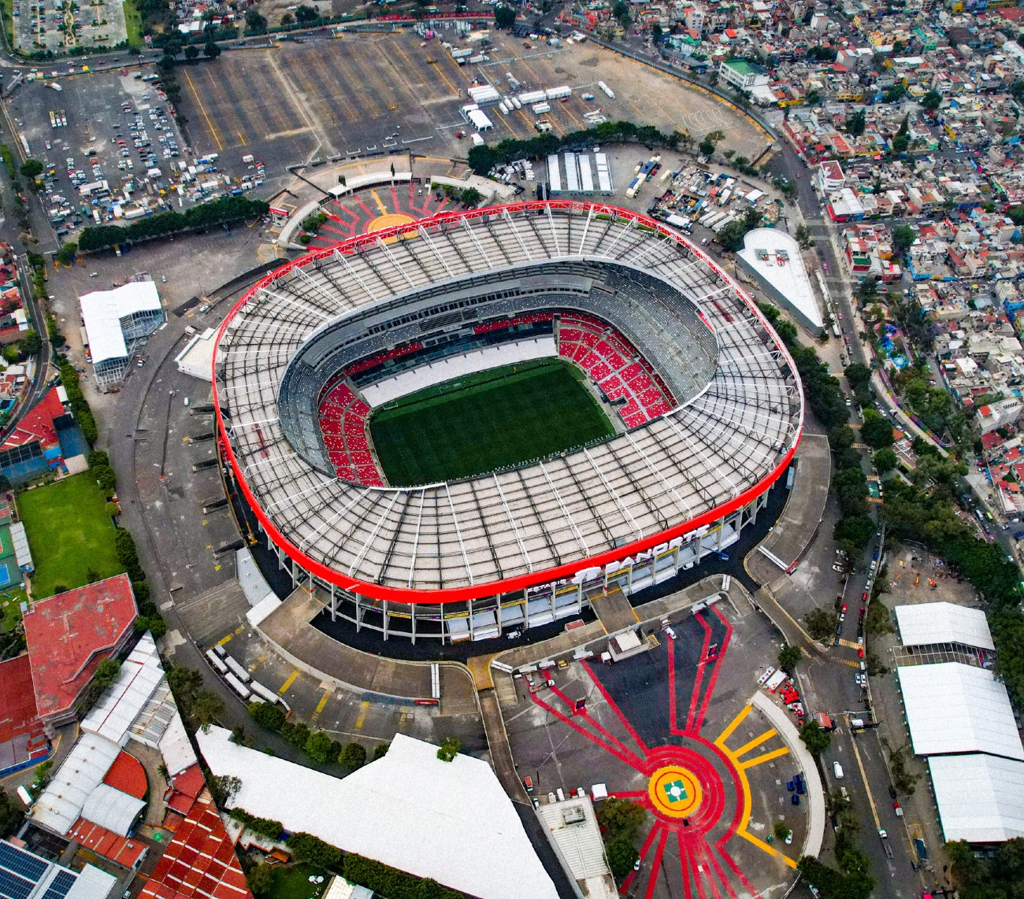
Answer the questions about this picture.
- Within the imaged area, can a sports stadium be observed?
Yes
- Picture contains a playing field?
Yes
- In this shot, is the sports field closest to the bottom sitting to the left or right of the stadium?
to its left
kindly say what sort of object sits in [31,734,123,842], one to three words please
building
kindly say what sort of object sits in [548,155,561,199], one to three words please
tent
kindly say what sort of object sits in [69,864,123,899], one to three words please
shed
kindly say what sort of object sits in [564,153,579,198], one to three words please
tent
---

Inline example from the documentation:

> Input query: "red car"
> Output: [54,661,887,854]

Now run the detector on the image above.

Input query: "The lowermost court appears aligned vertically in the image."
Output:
[0,524,21,588]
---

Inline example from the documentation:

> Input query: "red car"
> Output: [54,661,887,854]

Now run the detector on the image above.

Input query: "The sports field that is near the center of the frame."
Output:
[367,367,614,488]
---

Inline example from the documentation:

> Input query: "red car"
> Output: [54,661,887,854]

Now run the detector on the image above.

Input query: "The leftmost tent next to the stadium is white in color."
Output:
[80,281,167,382]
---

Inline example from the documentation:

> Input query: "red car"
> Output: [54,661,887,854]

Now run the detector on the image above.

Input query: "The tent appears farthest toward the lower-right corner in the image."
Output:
[924,754,1024,848]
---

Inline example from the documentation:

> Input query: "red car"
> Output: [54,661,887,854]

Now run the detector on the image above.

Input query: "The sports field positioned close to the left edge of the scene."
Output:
[16,469,126,604]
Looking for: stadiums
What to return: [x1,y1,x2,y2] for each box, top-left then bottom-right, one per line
[213,201,805,643]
